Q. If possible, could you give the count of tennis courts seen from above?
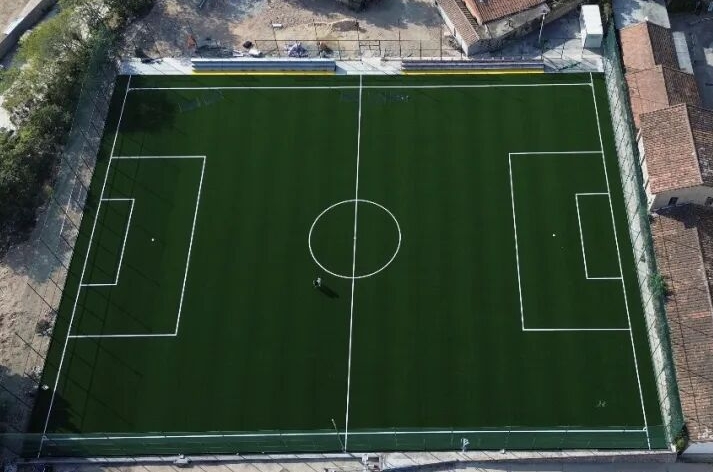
none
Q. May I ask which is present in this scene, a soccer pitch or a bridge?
soccer pitch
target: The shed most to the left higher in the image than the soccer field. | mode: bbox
[432,0,483,54]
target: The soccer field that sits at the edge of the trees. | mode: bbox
[26,71,670,459]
